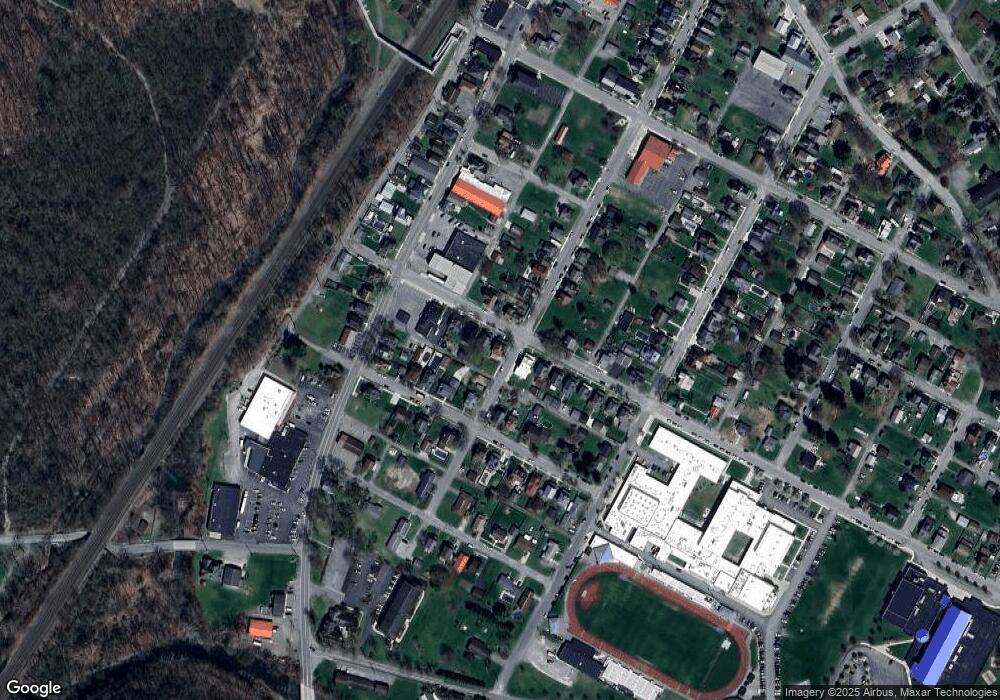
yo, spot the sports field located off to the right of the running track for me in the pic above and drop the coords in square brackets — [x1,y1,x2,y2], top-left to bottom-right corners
[781,522,900,700]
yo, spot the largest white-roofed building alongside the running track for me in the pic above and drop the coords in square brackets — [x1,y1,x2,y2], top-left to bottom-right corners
[605,427,797,612]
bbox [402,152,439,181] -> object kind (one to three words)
house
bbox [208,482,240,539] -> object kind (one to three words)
building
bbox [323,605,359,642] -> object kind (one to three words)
house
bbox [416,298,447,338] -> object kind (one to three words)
building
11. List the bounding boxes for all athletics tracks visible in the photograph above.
[564,561,748,700]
